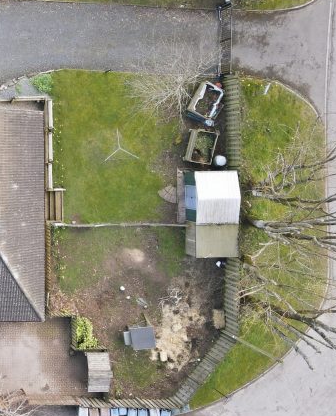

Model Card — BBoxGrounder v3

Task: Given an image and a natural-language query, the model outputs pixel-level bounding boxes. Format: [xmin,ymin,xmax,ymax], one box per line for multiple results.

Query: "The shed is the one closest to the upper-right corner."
[184,170,243,223]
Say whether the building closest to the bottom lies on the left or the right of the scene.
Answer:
left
